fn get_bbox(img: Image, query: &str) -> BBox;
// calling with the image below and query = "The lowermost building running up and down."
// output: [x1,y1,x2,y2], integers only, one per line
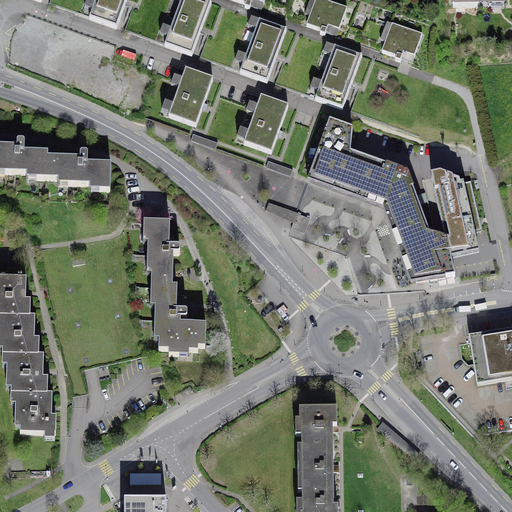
[295,404,339,512]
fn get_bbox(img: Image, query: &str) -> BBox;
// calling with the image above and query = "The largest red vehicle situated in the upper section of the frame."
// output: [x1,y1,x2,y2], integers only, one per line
[116,48,138,61]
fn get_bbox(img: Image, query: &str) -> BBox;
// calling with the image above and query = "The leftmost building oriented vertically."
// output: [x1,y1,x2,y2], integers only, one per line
[0,274,58,444]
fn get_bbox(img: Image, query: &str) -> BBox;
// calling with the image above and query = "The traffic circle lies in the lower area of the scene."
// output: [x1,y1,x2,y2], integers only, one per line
[292,302,382,378]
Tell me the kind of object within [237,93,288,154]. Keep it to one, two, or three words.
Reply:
house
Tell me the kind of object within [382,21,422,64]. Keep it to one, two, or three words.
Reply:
house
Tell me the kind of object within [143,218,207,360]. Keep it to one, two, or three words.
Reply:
building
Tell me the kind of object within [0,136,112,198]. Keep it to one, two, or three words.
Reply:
building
